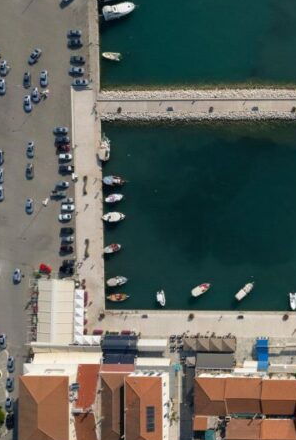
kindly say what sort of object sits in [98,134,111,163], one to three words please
boat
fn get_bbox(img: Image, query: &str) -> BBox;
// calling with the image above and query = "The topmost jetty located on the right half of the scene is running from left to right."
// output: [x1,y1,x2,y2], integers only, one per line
[95,84,296,125]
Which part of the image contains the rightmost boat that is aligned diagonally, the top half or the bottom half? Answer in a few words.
bottom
